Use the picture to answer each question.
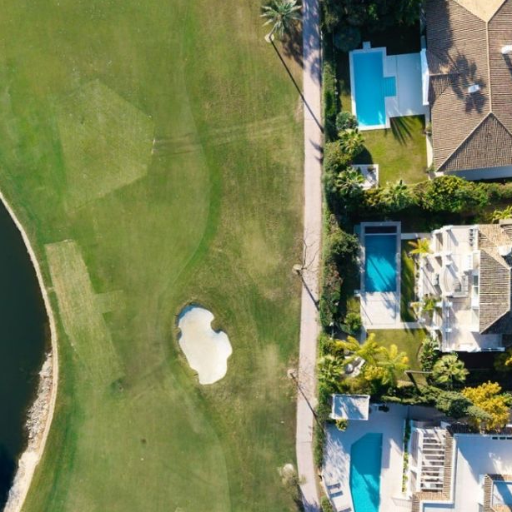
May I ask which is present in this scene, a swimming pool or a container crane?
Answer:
swimming pool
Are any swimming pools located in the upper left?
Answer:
No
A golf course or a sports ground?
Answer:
golf course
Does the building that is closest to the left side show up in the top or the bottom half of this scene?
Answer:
bottom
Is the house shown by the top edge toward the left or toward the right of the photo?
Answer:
right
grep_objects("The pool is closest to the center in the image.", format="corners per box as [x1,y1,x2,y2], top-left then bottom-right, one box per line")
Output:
[359,221,419,330]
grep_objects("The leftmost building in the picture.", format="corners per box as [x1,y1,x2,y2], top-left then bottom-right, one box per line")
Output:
[327,395,370,420]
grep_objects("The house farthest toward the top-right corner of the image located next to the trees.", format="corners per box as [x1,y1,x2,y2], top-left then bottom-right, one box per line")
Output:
[410,0,512,171]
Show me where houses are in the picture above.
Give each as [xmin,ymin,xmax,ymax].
[404,422,512,512]
[415,219,512,352]
[410,0,512,171]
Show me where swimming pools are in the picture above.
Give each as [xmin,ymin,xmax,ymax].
[349,41,426,130]
[359,221,419,330]
[323,405,410,512]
